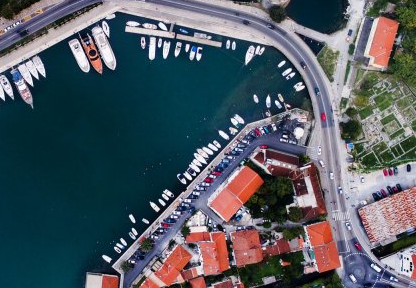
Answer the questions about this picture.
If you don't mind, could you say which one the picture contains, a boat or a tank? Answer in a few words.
boat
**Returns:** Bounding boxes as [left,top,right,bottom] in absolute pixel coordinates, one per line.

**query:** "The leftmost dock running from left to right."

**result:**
[125,26,174,39]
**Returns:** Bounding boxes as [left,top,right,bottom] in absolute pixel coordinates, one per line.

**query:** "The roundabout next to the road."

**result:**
[337,252,377,288]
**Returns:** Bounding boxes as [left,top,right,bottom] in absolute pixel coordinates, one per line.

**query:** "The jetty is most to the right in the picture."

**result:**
[175,34,222,48]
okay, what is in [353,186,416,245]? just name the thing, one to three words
building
